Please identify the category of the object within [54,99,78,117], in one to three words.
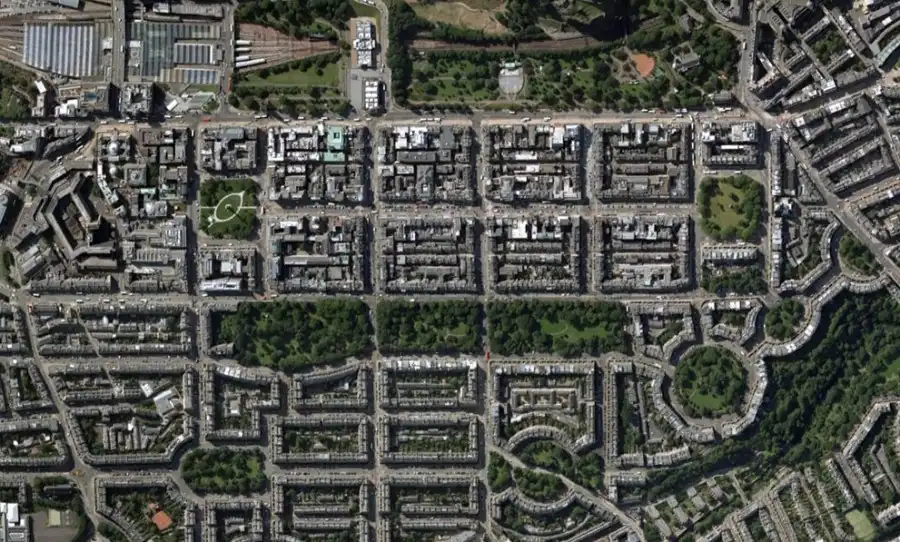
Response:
house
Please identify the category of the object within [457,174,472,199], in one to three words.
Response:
building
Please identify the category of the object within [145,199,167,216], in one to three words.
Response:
building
